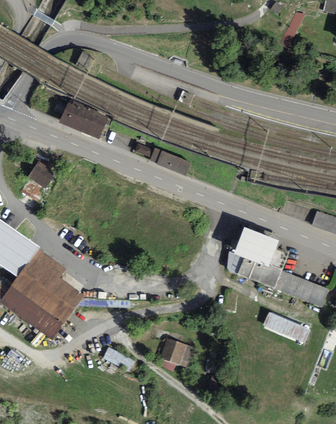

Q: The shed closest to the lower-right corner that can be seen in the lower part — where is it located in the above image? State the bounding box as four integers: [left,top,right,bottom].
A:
[264,312,311,345]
